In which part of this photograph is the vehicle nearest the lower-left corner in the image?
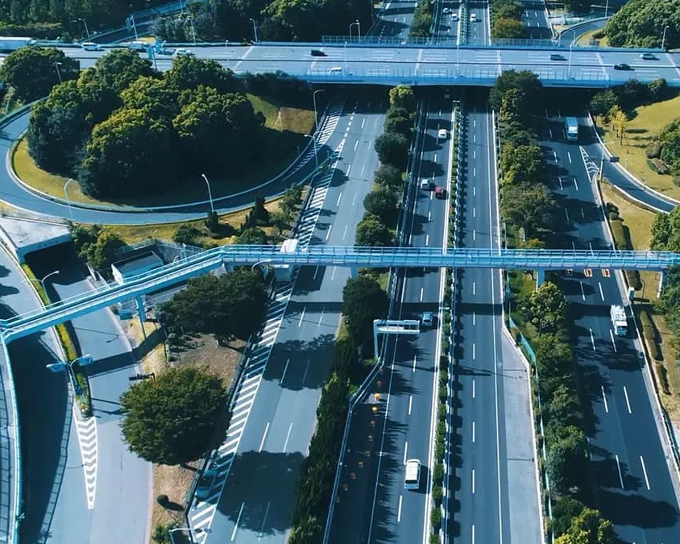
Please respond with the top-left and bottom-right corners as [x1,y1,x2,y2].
[195,470,216,498]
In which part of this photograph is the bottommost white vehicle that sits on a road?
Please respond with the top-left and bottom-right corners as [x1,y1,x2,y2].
[403,464,420,492]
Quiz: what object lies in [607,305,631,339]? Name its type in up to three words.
truck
